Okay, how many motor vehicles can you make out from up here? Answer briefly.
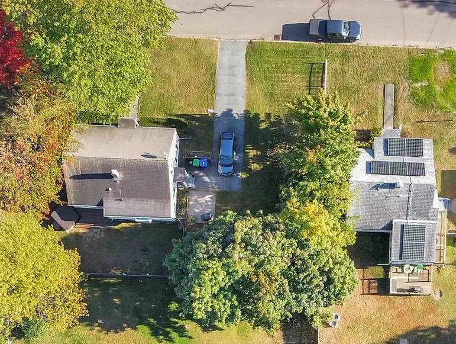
2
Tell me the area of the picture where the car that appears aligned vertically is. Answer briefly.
center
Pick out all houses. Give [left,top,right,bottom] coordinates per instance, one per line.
[53,118,202,225]
[347,128,456,295]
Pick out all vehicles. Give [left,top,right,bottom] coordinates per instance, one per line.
[214,129,235,176]
[305,14,359,41]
